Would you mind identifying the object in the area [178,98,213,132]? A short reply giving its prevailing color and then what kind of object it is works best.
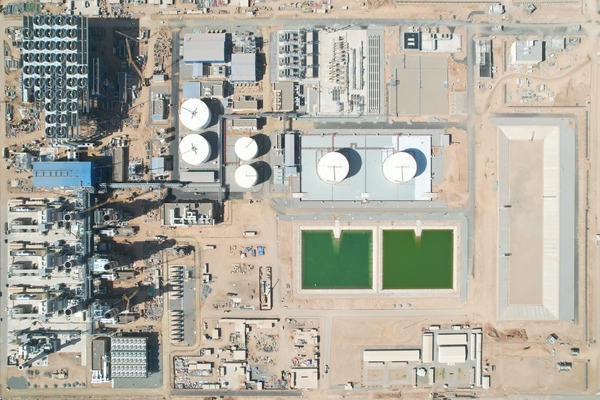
white storage tank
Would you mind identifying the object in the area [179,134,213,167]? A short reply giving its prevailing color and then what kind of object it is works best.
white storage tank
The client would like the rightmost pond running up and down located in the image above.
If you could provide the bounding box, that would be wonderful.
[487,108,578,324]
